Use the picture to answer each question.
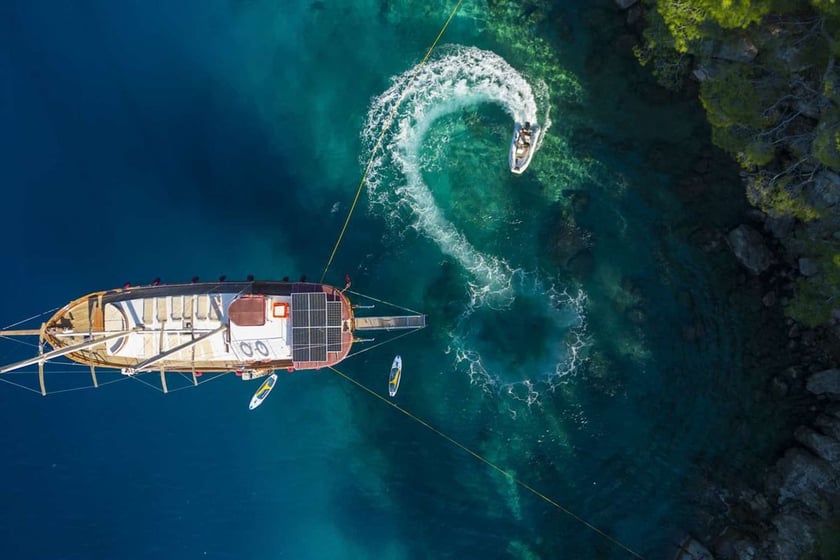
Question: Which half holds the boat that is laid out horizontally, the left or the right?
left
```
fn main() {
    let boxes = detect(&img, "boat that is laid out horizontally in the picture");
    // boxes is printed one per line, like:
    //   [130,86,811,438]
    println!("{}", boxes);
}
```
[0,275,427,396]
